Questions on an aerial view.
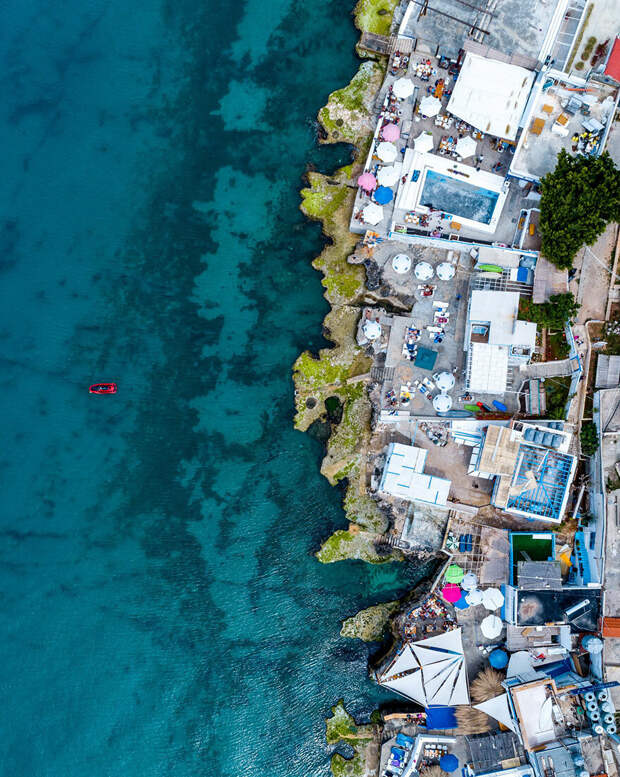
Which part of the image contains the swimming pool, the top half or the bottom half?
top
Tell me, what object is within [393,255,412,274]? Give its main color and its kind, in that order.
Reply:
white umbrella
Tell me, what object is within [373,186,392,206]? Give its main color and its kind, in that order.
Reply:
blue umbrella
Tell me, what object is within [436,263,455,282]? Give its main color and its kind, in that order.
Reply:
white umbrella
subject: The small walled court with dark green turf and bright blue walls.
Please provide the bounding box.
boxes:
[508,530,555,587]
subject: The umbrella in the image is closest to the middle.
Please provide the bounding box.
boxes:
[364,321,380,338]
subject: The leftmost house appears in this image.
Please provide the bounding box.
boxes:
[376,441,451,505]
